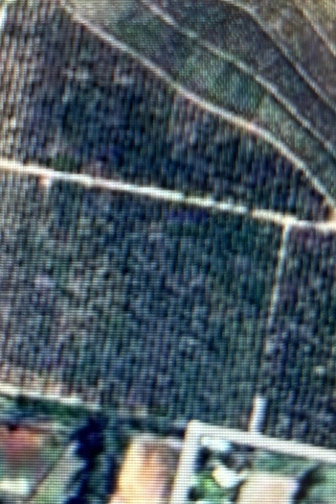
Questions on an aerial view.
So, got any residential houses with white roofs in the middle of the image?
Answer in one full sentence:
No, there's no residential house with a white roof to be seen in the middle of the image.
